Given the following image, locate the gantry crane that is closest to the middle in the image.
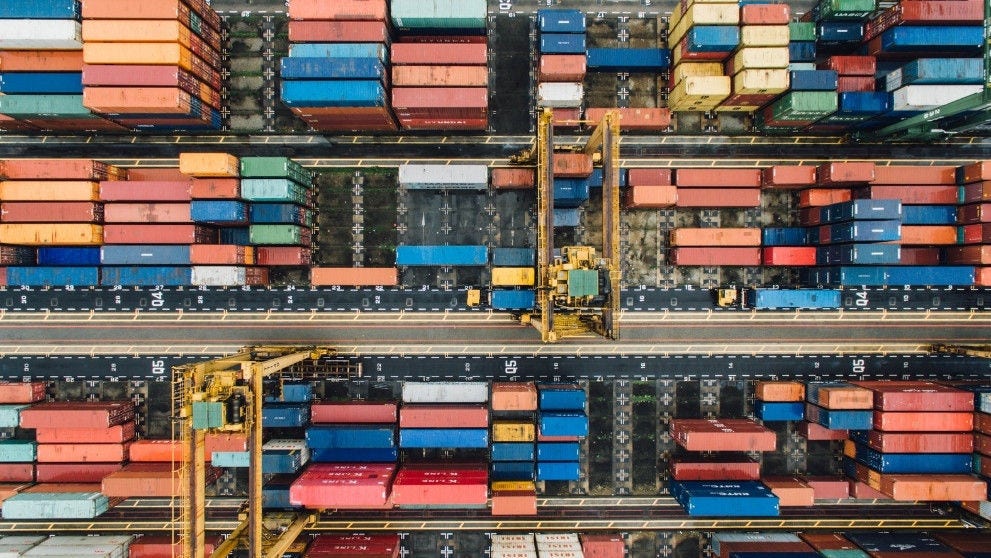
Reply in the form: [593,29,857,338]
[504,108,620,342]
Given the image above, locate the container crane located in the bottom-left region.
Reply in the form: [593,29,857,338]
[176,346,340,558]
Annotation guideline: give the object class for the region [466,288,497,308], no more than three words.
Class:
vehicle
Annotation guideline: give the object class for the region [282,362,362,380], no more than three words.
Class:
trailer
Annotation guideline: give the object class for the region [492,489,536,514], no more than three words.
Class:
shipping container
